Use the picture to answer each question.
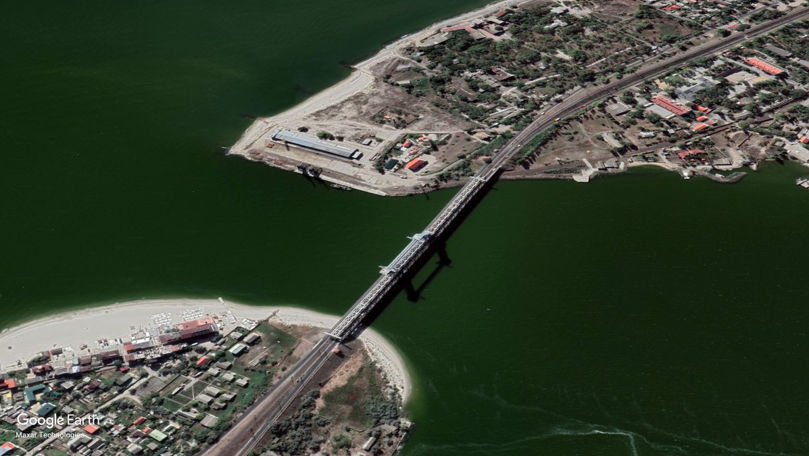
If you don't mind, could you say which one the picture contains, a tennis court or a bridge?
bridge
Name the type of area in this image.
port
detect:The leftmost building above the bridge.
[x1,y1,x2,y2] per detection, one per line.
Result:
[270,131,359,164]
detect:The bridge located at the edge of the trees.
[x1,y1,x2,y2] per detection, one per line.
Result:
[316,179,495,352]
